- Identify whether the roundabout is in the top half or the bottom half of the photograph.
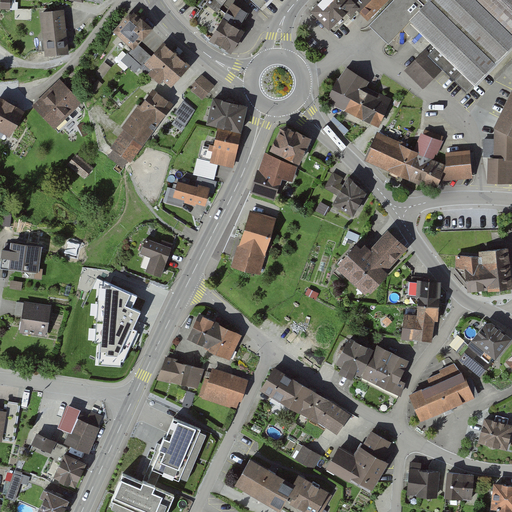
top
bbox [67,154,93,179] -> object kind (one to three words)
shed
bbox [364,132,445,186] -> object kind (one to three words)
house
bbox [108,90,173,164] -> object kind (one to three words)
barn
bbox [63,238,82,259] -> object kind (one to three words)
building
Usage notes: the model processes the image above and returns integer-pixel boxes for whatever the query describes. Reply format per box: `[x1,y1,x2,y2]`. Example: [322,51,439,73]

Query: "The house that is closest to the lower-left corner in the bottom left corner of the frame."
[2,474,30,502]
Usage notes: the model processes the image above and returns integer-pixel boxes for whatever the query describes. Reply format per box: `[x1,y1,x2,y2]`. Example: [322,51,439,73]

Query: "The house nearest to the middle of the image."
[230,210,276,276]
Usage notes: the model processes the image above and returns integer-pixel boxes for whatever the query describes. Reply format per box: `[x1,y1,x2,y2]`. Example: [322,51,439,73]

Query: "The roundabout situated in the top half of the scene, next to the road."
[242,46,314,118]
